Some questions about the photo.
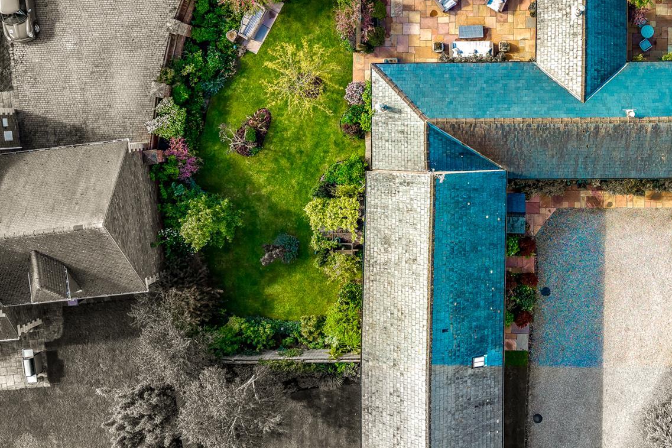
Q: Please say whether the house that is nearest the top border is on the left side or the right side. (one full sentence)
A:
The house that is nearest the top border sits on the right side.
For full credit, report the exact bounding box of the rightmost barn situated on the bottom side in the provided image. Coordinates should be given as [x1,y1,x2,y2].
[364,166,508,448]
